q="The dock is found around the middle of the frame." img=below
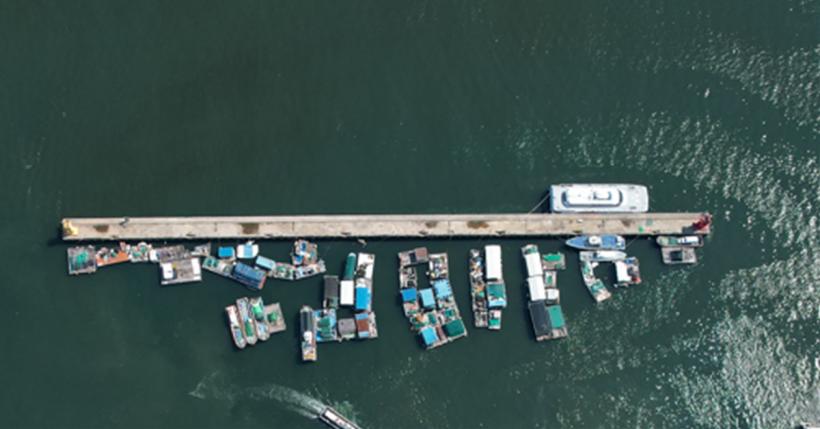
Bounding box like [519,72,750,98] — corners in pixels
[62,212,713,243]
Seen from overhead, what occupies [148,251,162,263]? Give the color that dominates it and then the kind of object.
white boat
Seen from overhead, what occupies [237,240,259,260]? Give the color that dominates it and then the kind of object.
white boat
